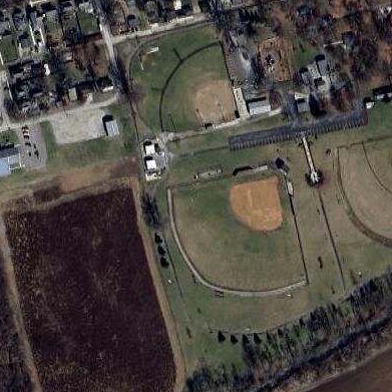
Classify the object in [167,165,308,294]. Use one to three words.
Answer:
baseball field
